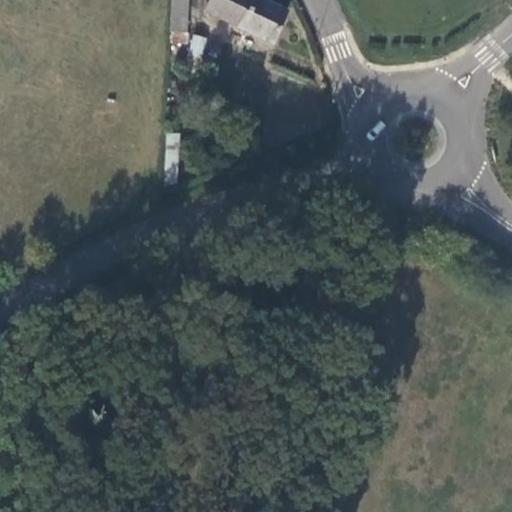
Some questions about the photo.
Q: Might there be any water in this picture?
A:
No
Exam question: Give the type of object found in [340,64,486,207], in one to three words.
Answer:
roundabout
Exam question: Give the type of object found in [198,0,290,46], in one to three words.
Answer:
house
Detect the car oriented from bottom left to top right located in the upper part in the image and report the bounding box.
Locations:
[368,121,386,140]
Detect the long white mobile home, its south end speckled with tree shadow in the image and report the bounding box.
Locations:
[164,132,181,184]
